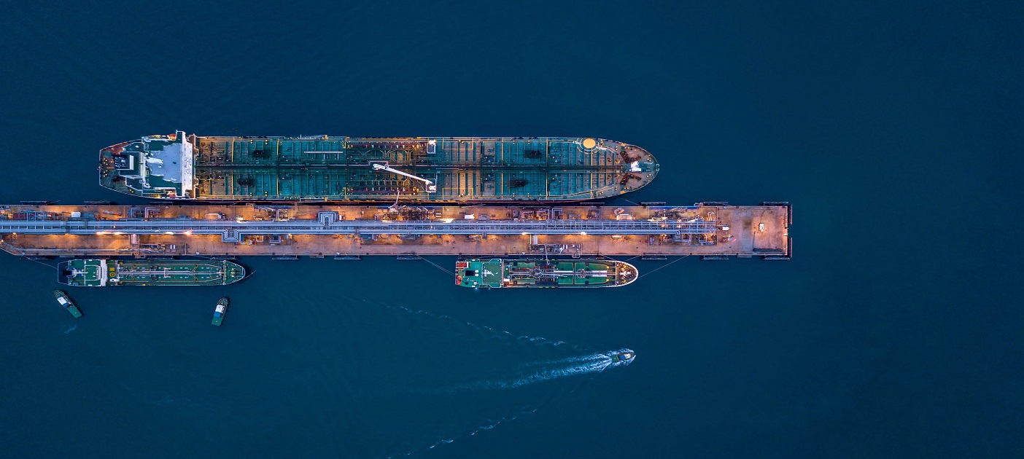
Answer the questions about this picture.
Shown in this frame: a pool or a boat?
boat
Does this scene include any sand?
No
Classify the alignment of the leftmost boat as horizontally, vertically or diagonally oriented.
diagonally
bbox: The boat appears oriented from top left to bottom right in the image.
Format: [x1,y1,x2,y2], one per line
[55,291,81,319]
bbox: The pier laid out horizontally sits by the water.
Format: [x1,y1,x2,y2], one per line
[0,201,792,260]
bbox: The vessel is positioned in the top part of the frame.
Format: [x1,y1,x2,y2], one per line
[98,130,660,202]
